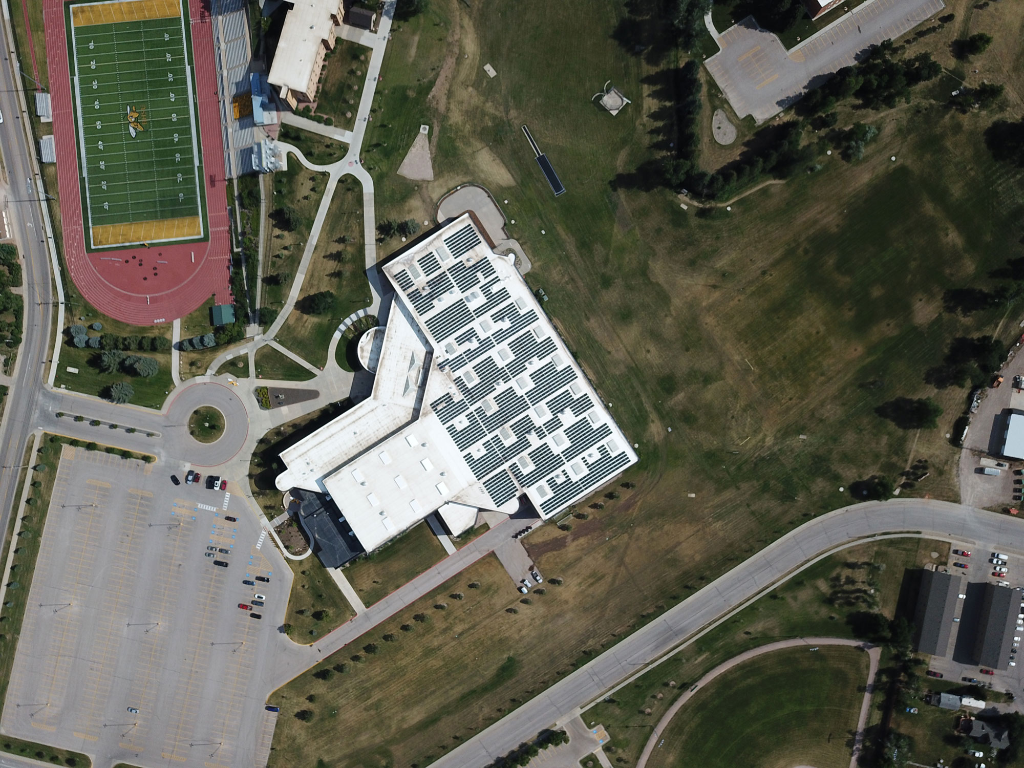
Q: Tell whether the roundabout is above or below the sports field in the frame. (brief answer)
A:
below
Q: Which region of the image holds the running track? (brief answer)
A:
top left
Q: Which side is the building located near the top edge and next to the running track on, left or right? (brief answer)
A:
left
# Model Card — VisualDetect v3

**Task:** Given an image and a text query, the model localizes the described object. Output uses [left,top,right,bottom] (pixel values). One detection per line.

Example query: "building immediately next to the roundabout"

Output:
[275,213,640,569]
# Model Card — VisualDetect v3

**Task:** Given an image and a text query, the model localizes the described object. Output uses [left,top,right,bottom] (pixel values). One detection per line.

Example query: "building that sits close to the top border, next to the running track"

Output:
[267,0,351,107]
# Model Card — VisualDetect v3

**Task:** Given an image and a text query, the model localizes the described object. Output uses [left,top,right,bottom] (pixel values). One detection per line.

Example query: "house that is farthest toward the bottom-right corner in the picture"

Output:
[966,716,1010,750]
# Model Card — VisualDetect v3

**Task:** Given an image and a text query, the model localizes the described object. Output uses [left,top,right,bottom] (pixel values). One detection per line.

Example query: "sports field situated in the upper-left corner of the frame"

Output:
[63,0,209,255]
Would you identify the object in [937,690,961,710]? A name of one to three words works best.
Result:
shed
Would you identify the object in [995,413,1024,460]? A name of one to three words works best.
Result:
building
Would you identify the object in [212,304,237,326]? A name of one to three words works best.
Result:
shed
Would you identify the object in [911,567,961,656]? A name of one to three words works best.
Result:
building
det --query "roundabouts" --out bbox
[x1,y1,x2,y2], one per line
[166,382,249,467]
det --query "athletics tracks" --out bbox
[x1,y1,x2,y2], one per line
[41,0,234,325]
